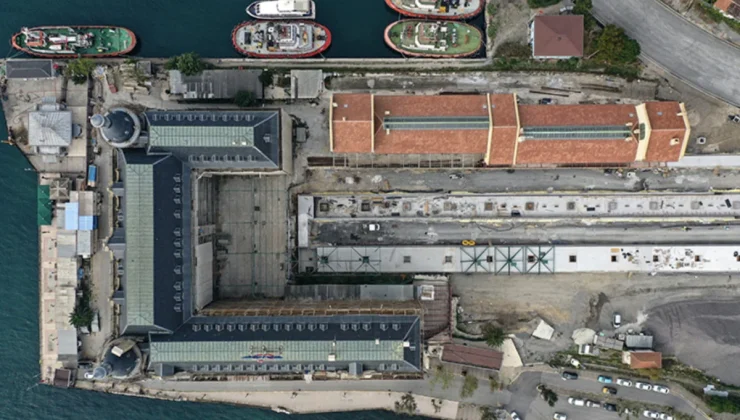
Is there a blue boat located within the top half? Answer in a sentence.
No, no blue boat can be made out within the top half.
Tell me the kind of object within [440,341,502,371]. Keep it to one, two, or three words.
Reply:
building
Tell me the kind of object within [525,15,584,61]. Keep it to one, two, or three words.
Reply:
house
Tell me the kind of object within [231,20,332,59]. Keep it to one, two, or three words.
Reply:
boat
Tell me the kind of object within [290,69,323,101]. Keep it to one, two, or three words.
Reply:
building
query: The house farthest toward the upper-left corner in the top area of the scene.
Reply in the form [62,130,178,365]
[7,60,59,81]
